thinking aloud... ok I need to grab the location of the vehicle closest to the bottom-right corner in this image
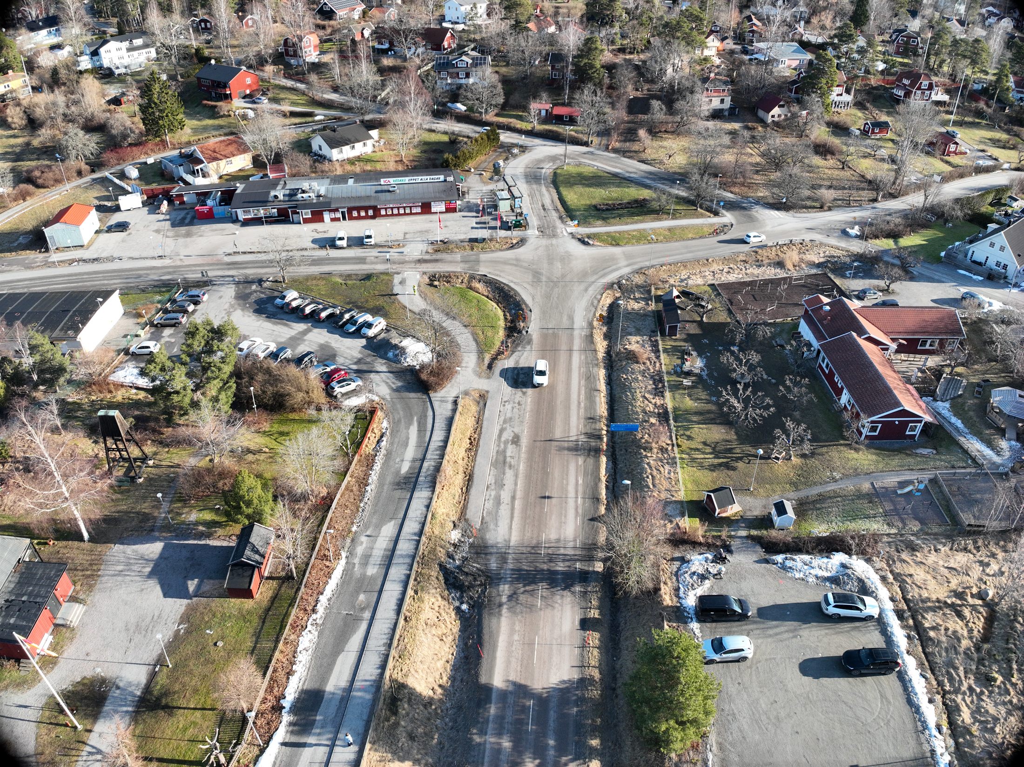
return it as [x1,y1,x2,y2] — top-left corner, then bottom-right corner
[840,646,909,677]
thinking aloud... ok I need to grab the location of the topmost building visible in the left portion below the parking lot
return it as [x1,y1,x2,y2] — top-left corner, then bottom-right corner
[96,407,157,483]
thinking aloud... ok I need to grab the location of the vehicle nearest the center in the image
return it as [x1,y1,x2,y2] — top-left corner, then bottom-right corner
[531,356,549,385]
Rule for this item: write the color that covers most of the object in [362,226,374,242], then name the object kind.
white vehicle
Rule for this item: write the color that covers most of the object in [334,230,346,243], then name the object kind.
white vehicle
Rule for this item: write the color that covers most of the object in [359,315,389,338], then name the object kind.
white car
